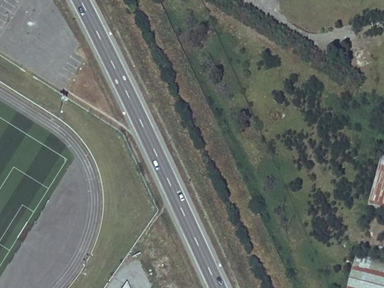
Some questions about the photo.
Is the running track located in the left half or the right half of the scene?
left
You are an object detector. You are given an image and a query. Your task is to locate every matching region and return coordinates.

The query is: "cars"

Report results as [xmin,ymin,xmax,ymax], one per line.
[178,190,185,201]
[152,160,159,170]
[78,5,85,16]
[216,276,224,286]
